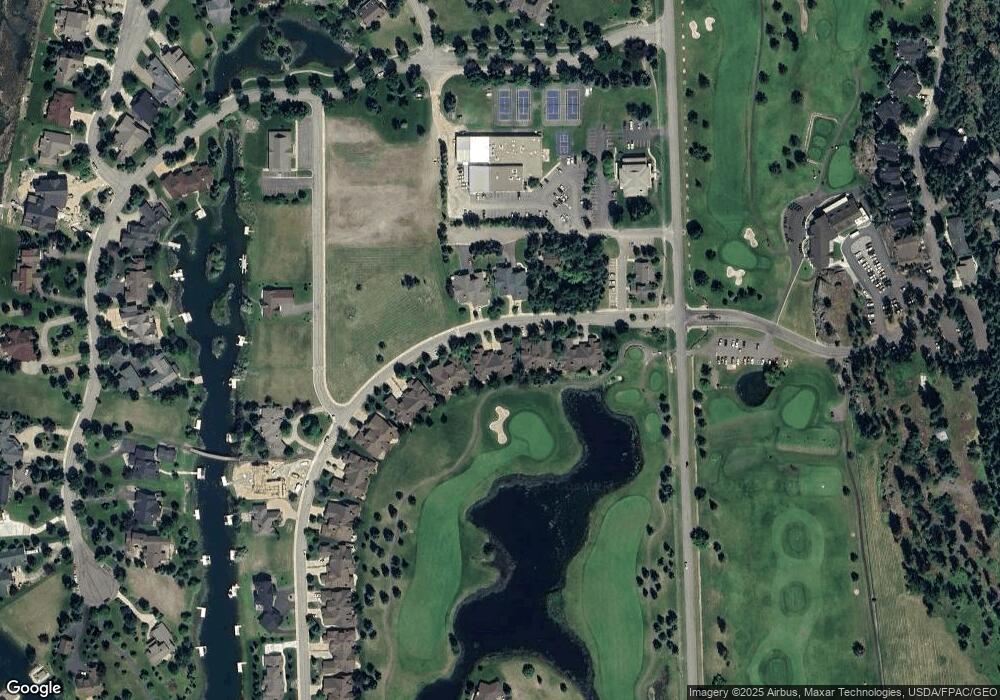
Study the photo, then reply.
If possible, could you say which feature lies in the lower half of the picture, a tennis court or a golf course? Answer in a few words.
golf course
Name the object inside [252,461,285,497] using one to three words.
house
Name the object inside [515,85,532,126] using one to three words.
tennis court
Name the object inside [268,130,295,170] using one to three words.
building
